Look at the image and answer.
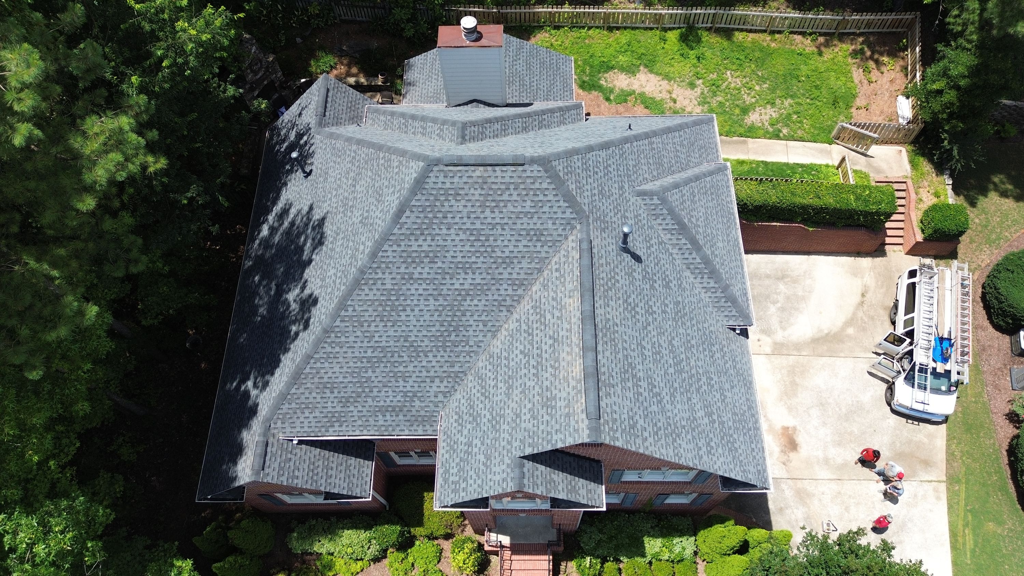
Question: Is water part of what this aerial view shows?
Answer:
No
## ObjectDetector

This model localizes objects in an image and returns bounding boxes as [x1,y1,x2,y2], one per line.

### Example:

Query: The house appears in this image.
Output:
[192,18,777,576]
